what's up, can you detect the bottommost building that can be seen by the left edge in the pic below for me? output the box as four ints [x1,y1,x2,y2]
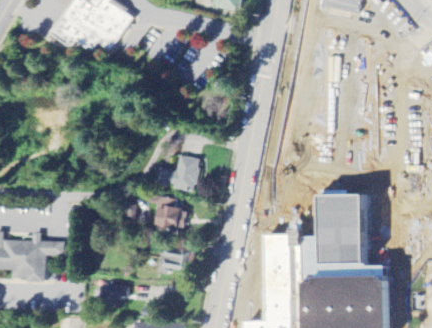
[0,232,65,280]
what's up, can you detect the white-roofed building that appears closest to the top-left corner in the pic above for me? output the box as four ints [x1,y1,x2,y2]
[45,0,134,48]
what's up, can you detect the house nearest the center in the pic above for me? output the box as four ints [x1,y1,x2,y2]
[168,154,201,192]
